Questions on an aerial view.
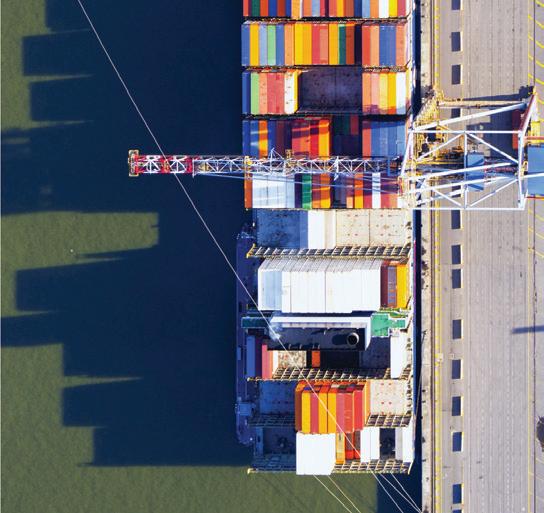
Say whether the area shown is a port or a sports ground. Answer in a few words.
port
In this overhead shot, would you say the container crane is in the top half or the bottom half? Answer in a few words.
top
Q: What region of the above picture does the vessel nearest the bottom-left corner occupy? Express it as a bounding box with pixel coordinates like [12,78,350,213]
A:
[235,235,253,448]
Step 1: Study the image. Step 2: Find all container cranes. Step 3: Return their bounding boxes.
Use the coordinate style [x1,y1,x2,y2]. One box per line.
[128,83,544,215]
